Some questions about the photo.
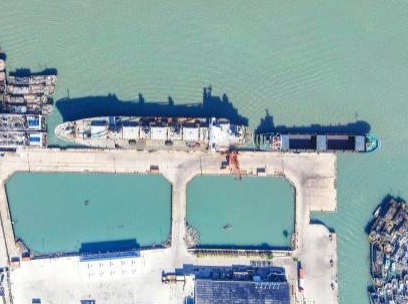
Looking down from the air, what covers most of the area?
water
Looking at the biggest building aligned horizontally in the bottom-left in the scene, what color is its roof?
white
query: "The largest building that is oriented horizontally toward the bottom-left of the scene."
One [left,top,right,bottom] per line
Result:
[79,257,139,277]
